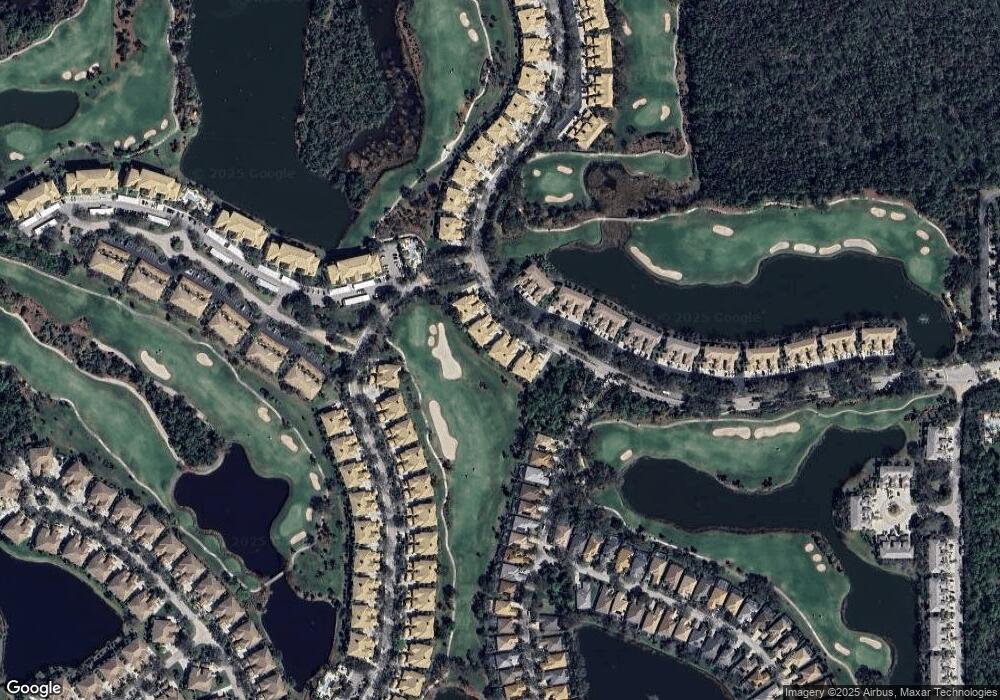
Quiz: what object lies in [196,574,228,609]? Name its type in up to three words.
house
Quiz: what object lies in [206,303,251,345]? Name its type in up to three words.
building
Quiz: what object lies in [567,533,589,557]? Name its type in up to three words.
house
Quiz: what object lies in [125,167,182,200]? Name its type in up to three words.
building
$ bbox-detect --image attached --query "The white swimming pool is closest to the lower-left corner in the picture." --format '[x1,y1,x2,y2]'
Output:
[317,666,347,699]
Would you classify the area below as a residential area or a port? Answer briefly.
residential area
